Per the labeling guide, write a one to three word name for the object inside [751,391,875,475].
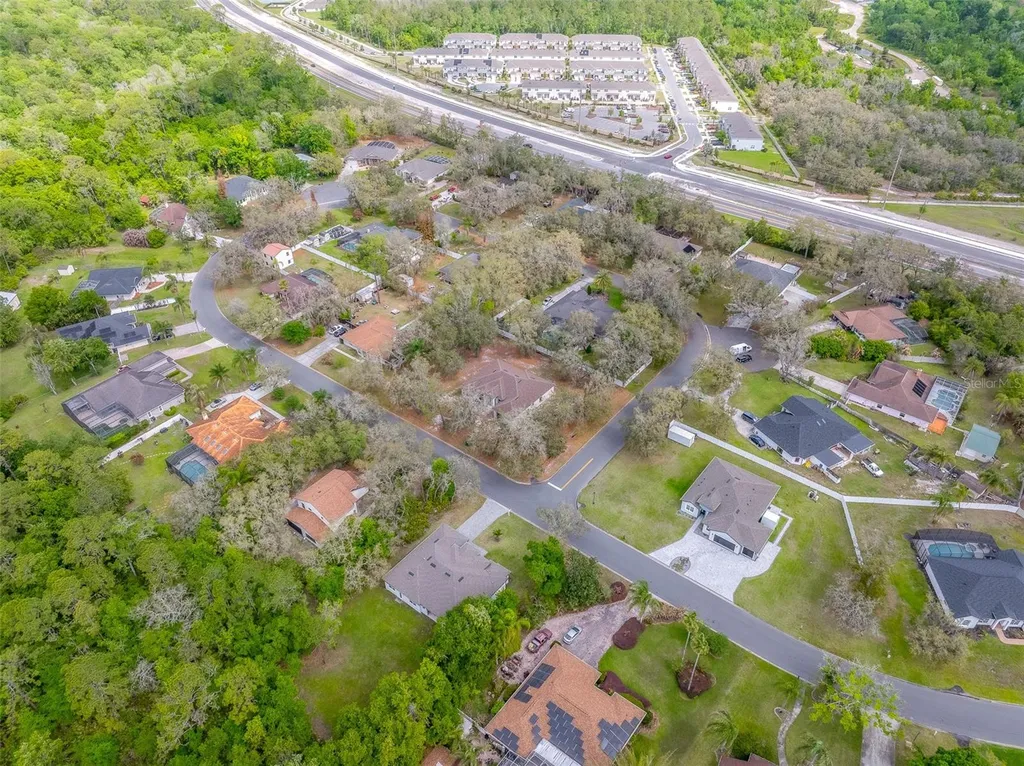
house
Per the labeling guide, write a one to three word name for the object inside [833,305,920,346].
house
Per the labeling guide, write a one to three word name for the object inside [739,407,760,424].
vehicle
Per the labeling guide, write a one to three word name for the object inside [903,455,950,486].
shed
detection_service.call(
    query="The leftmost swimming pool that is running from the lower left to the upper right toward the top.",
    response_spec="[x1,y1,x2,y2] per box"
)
[333,237,363,257]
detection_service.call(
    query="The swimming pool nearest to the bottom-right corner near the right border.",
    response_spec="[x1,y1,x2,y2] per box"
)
[914,538,986,562]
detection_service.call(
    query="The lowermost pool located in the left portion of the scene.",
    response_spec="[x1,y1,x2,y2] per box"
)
[166,448,225,492]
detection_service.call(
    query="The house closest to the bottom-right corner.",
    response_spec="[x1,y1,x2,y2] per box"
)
[924,549,1024,631]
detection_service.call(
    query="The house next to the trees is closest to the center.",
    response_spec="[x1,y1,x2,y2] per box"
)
[459,356,558,423]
